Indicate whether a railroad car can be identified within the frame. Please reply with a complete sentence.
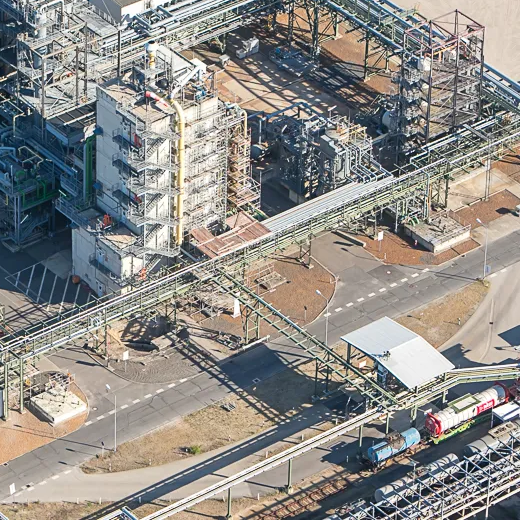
Yes, this view includes a railroad car.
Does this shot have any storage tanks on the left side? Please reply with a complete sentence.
No, no storage tank appears on the left side.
